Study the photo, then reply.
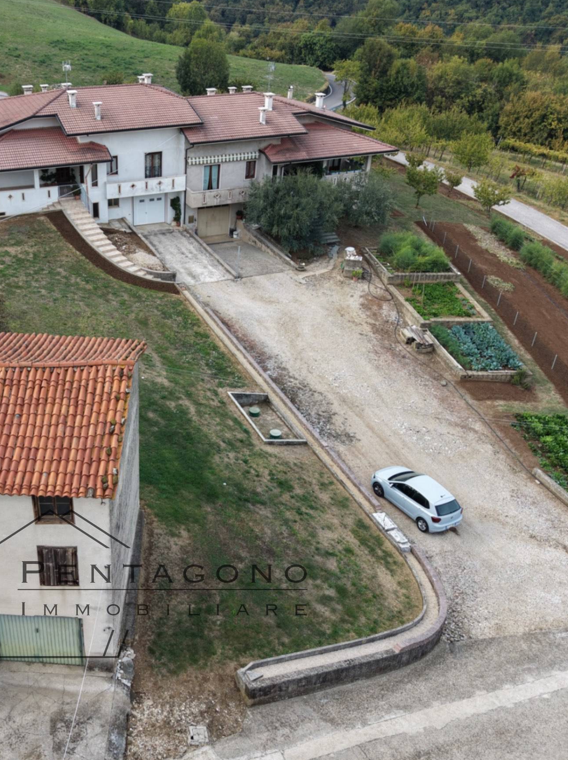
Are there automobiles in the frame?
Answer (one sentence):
Yes, looking at the shot, I can spot an automobile.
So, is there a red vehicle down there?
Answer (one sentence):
No, there's no red vehicle here.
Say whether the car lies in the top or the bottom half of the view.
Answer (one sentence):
It is in the bottom half that the car appears.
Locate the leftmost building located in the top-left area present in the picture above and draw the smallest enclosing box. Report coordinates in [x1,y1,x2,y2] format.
[0,44,204,231]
